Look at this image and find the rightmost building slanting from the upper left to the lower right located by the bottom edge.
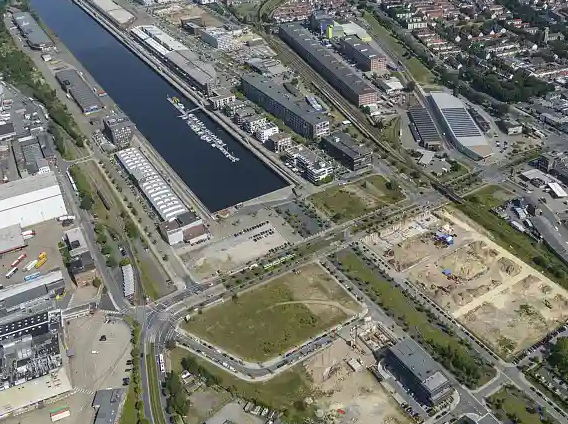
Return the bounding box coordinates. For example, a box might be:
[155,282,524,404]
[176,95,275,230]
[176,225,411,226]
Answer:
[389,338,451,403]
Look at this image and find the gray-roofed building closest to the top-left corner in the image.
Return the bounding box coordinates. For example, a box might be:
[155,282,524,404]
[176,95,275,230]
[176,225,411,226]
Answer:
[12,11,54,52]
